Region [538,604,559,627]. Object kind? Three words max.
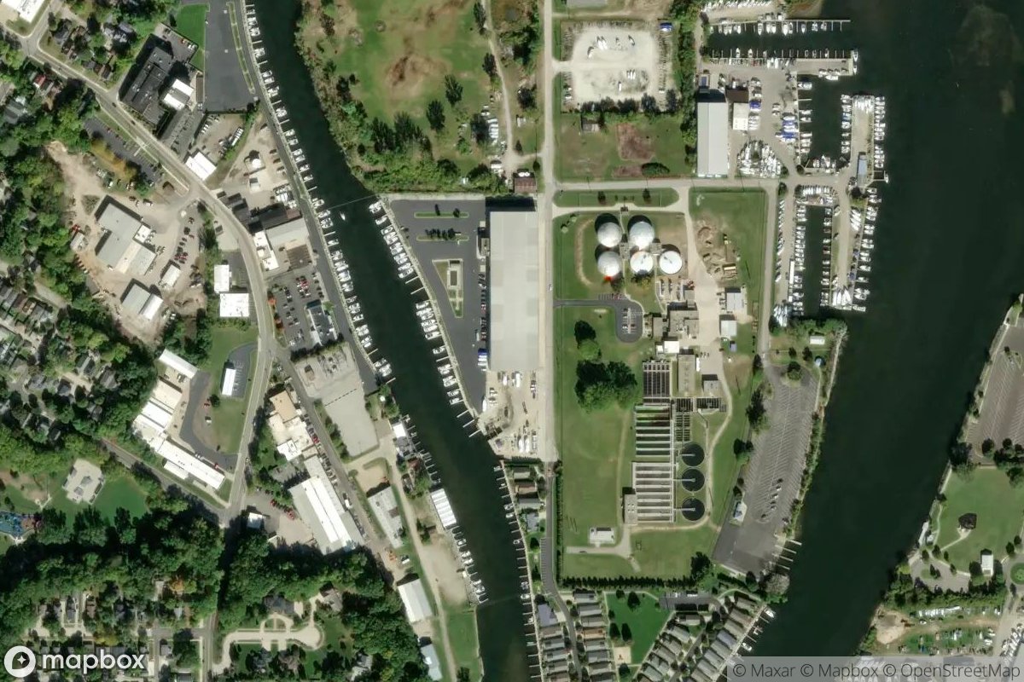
house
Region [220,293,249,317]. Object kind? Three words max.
building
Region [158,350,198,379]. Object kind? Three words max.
building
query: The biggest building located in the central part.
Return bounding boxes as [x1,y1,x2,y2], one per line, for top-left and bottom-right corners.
[490,212,538,370]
